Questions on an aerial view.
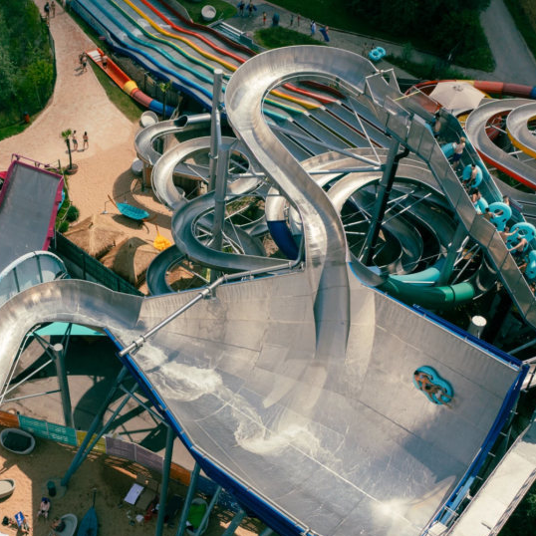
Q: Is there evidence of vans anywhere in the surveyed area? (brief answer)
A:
No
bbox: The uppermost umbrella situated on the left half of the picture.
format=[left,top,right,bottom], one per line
[62,214,128,258]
